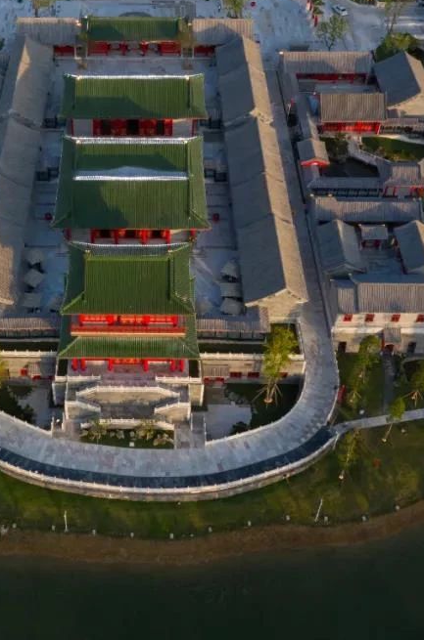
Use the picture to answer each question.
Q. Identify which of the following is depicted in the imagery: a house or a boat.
house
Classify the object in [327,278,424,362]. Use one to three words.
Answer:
building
